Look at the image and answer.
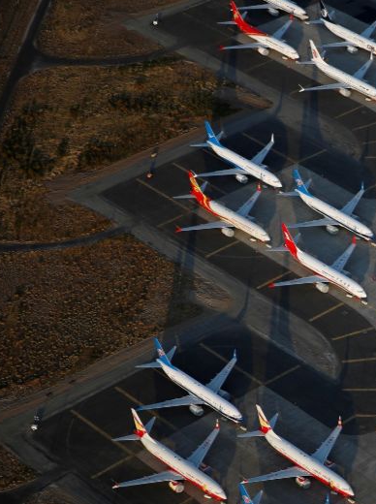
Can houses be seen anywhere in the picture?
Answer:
No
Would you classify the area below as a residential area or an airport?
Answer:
airport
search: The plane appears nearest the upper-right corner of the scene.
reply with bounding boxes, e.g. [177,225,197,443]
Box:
[309,2,376,56]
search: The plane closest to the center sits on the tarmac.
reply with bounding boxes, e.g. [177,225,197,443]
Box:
[174,172,270,242]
